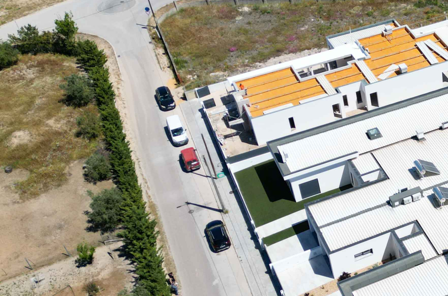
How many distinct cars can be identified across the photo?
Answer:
four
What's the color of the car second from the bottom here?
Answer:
red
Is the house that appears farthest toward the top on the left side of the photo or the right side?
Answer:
right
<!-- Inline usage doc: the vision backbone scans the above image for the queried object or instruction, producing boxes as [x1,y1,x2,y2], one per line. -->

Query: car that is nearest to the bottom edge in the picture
[201,220,234,258]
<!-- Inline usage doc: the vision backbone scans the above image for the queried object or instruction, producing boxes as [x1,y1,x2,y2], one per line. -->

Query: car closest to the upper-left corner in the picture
[152,83,177,112]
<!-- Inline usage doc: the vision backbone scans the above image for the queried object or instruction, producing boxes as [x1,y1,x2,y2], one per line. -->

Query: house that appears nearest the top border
[228,19,448,146]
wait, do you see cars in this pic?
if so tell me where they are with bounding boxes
[177,147,201,175]
[160,109,189,147]
[201,220,234,258]
[152,83,177,112]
